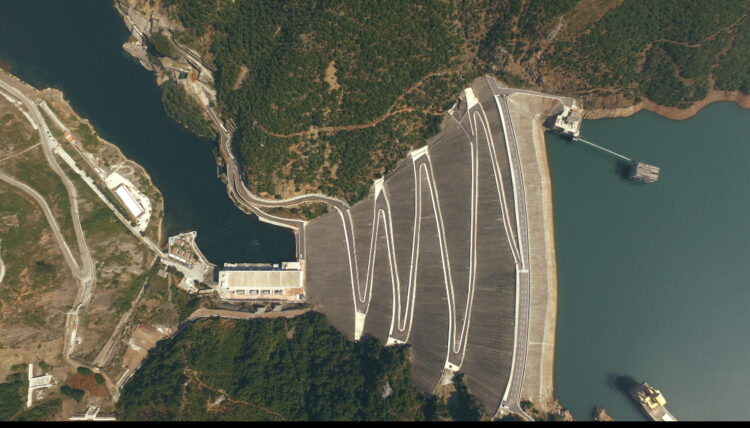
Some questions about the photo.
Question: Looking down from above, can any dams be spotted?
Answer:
Yes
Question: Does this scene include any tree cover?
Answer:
Yes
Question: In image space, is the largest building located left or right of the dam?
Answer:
to the left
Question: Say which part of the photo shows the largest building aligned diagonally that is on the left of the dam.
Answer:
left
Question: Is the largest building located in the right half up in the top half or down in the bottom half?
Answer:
top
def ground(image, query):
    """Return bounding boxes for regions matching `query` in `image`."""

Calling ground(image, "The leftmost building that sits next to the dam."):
[218,262,305,301]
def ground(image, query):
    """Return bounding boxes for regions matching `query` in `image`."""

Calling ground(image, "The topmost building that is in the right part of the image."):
[548,104,583,139]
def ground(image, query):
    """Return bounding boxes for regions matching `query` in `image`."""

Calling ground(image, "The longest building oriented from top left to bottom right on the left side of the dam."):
[114,185,146,217]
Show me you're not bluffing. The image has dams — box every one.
[305,75,561,419]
